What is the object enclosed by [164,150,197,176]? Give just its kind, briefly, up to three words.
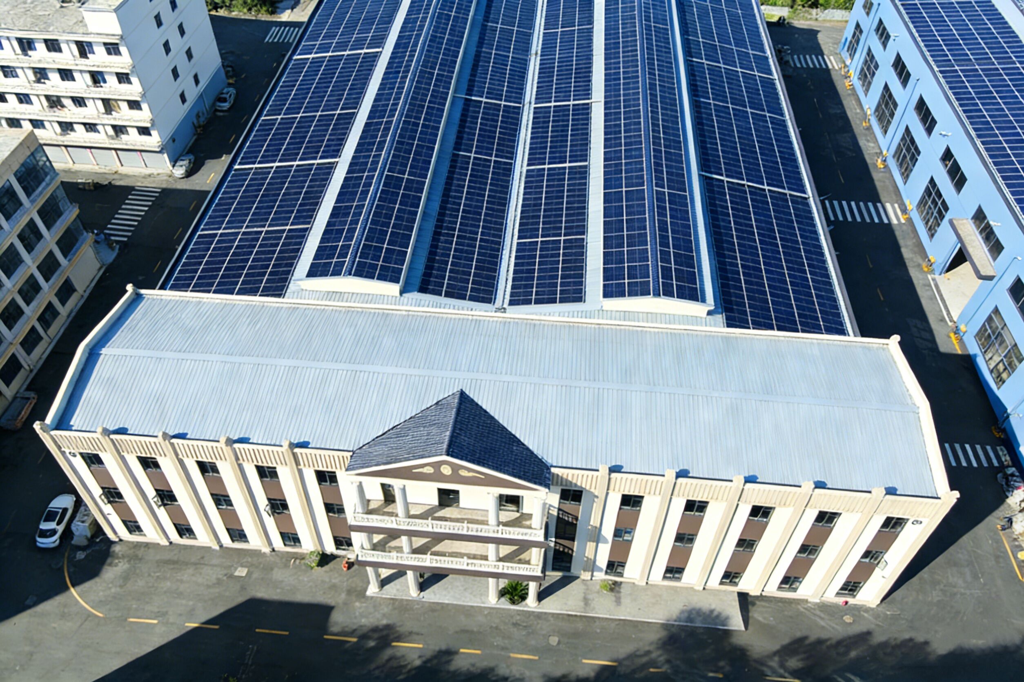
car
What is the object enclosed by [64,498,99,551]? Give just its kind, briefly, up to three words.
truck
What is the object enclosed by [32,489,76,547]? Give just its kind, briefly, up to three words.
car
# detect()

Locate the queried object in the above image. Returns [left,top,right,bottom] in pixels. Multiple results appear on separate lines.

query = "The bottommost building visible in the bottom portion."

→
[38,280,957,607]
